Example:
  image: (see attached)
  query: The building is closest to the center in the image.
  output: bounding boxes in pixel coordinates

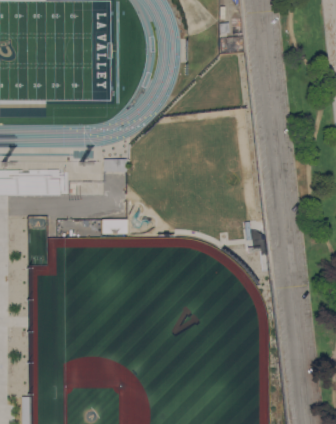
[100,219,128,234]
